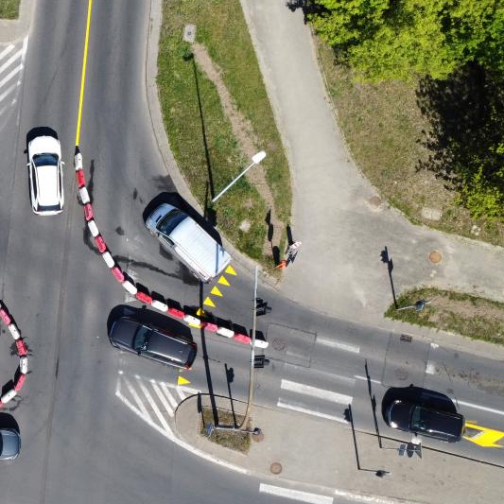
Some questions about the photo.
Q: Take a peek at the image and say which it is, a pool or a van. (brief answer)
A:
van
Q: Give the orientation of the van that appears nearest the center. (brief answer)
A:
diagonally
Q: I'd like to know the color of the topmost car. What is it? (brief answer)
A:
white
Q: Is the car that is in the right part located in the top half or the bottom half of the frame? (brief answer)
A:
bottom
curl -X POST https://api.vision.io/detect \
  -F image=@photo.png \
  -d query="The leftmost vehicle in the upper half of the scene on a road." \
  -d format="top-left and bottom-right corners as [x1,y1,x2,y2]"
[23,137,66,216]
